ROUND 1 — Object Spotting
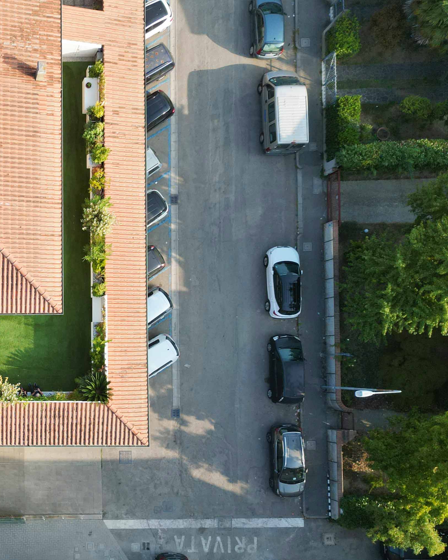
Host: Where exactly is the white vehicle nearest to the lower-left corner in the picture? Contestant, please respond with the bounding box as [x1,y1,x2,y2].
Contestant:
[150,334,184,377]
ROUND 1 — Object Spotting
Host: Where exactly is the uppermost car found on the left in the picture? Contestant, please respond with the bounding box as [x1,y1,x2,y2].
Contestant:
[150,0,177,38]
